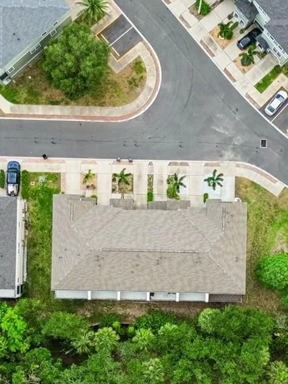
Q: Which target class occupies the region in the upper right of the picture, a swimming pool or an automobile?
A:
automobile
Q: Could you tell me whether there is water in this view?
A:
No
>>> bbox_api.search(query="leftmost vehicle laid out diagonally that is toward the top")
[234,24,260,50]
